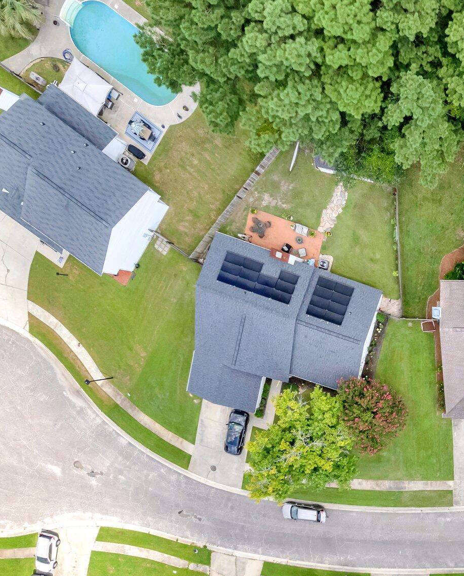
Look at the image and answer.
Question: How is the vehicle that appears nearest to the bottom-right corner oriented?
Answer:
from left to right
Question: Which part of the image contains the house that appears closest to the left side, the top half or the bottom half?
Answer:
top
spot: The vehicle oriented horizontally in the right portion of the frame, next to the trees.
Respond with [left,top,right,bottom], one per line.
[281,501,328,523]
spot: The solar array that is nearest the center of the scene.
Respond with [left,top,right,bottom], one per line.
[213,251,300,303]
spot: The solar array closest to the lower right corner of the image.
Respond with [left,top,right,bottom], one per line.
[306,277,354,325]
